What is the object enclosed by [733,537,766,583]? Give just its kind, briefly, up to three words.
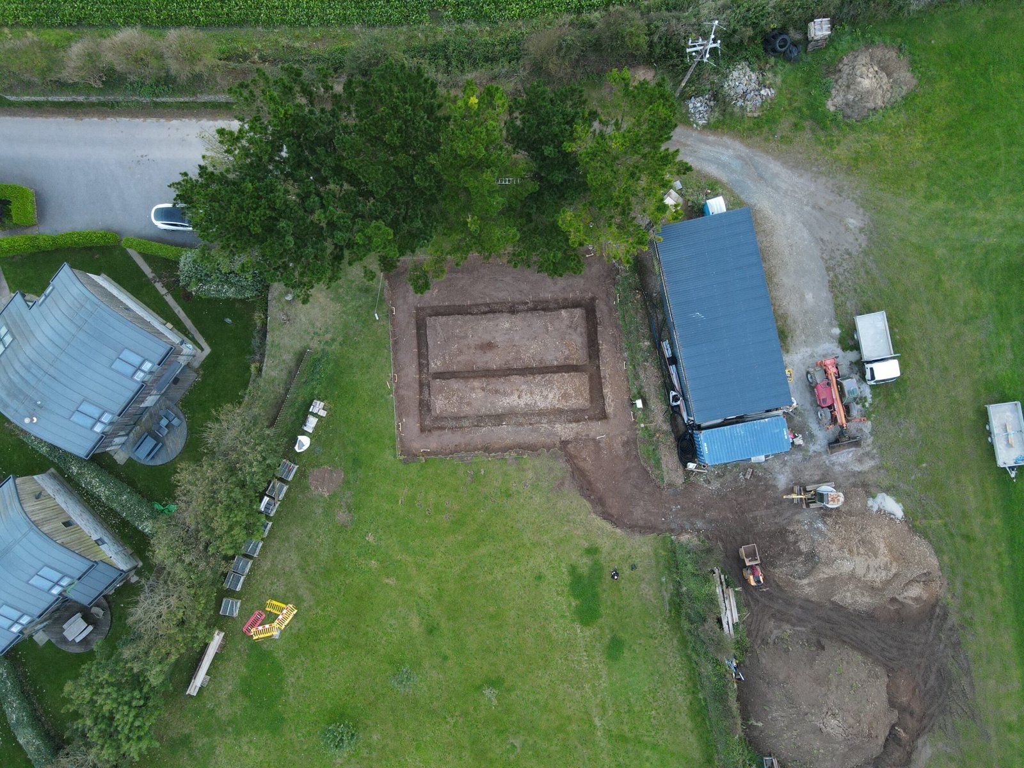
truck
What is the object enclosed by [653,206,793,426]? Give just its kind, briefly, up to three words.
shed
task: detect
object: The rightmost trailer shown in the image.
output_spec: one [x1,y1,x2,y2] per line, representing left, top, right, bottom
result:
[980,400,1024,483]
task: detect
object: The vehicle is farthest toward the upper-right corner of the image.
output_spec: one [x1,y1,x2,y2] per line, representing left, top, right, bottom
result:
[849,309,902,387]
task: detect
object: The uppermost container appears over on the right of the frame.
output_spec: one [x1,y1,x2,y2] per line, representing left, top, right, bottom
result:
[689,413,793,467]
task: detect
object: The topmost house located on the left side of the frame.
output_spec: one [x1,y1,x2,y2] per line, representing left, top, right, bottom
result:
[0,263,210,460]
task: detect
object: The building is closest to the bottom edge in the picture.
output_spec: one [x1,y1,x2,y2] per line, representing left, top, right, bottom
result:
[0,462,151,658]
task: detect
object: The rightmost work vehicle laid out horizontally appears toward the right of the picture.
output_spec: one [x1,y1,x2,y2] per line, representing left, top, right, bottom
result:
[786,481,847,509]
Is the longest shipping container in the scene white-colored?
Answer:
No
